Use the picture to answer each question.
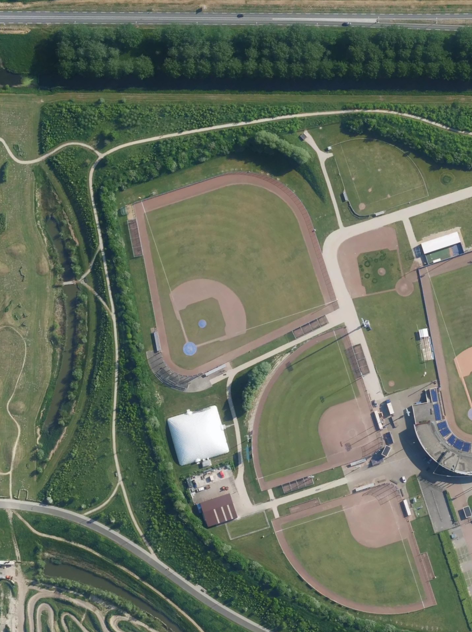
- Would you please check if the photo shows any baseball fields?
Yes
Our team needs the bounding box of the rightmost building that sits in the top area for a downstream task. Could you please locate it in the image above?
[421,232,463,265]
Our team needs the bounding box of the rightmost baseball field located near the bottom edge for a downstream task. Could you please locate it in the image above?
[272,483,436,615]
